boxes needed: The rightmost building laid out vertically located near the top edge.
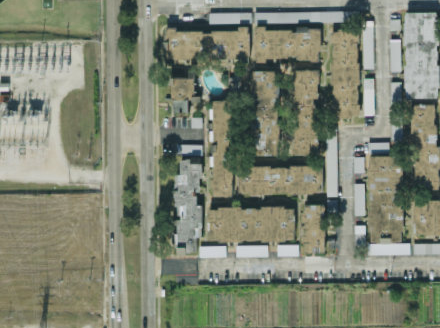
[404,12,439,100]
